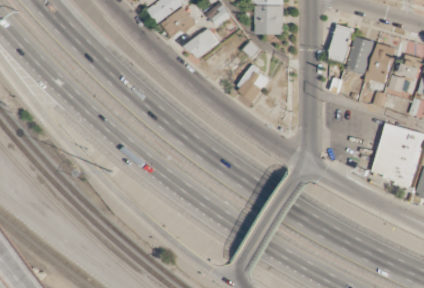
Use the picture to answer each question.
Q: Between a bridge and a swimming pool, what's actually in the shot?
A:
bridge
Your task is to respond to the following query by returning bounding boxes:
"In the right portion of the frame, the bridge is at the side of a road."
[226,166,310,282]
